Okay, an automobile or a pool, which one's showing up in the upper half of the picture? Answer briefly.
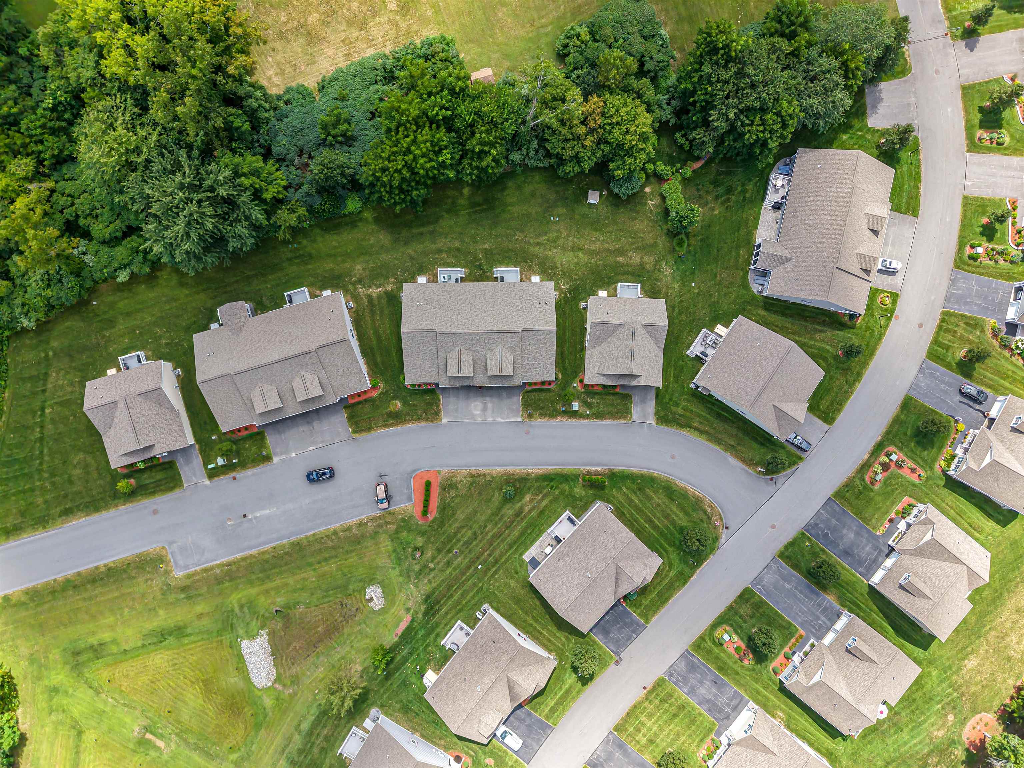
automobile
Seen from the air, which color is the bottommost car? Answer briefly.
white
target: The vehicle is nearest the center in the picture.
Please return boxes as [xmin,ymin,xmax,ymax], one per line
[376,481,390,510]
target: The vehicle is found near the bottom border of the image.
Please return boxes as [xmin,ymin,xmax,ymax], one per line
[496,724,524,751]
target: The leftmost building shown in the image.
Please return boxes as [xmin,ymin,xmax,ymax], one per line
[83,352,191,469]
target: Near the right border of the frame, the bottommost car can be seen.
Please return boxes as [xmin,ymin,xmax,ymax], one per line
[958,382,987,405]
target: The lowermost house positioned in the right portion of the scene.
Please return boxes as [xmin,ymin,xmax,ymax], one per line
[704,702,840,768]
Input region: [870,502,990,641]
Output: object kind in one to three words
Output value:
house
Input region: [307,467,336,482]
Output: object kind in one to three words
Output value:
car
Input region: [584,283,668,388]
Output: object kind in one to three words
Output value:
house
